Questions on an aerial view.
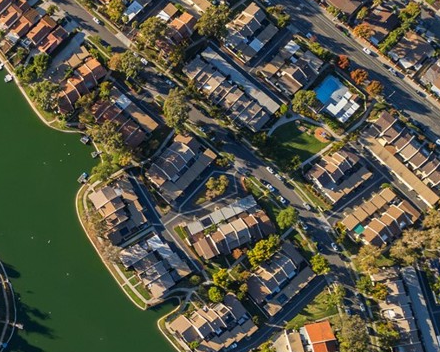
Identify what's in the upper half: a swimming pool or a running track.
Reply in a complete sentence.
It is a swimming pool that can be seen in the upper half.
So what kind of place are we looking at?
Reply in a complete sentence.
The area seen from above is a residential area.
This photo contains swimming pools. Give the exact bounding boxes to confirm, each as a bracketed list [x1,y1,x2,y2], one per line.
[315,74,341,104]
